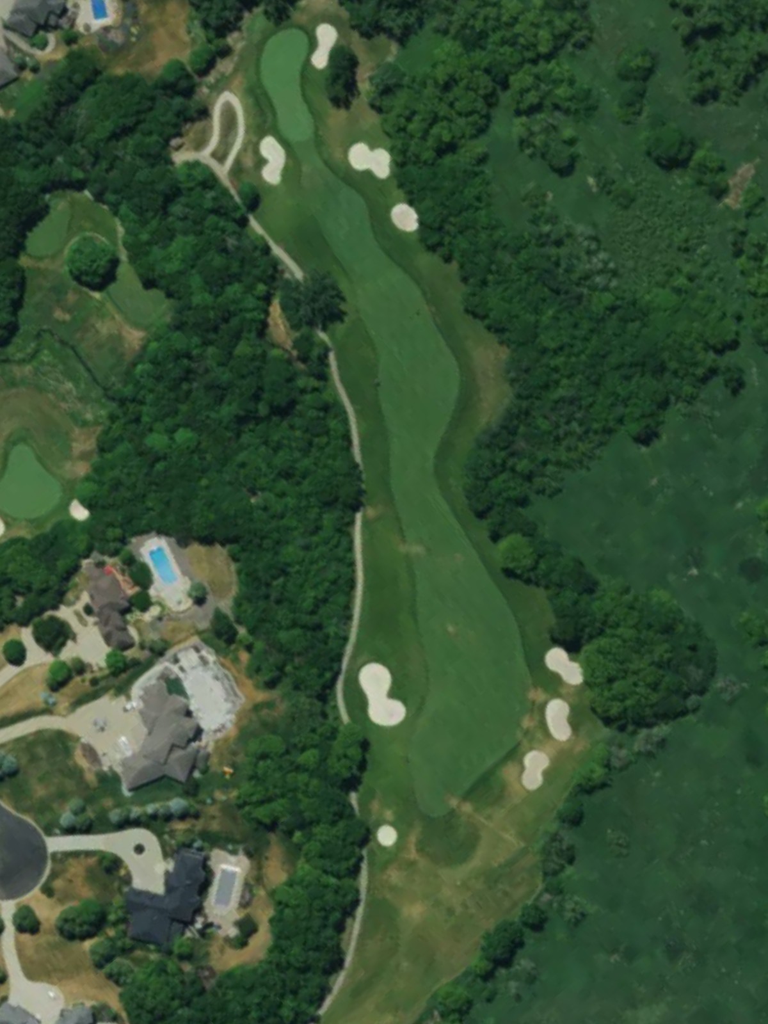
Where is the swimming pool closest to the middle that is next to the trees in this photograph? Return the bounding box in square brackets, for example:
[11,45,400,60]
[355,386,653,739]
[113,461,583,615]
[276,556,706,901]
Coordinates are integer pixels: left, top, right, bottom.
[141,538,193,611]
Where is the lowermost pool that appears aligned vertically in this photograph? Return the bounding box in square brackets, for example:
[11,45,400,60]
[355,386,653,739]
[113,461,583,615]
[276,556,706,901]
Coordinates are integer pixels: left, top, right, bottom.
[204,849,250,936]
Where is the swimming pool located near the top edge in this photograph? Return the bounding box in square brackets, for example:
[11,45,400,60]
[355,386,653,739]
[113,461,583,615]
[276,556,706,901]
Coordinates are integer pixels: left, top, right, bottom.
[71,0,123,34]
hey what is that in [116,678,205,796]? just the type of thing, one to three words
house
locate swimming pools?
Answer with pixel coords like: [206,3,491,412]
[204,849,250,936]
[71,0,123,34]
[141,538,193,611]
